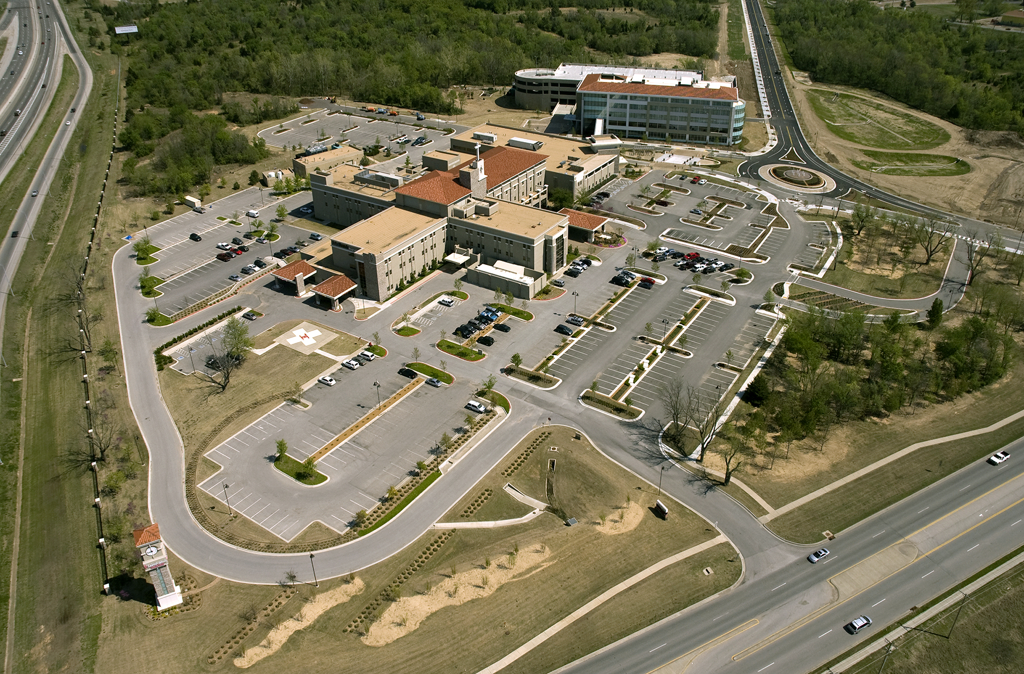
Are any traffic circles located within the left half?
No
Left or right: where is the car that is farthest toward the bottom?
right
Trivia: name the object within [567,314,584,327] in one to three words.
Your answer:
vehicle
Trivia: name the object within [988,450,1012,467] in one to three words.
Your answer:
vehicle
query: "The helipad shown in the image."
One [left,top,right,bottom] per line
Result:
[274,321,338,353]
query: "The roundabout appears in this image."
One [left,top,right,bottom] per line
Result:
[759,165,836,192]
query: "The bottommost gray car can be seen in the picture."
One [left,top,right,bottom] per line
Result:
[846,617,873,637]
